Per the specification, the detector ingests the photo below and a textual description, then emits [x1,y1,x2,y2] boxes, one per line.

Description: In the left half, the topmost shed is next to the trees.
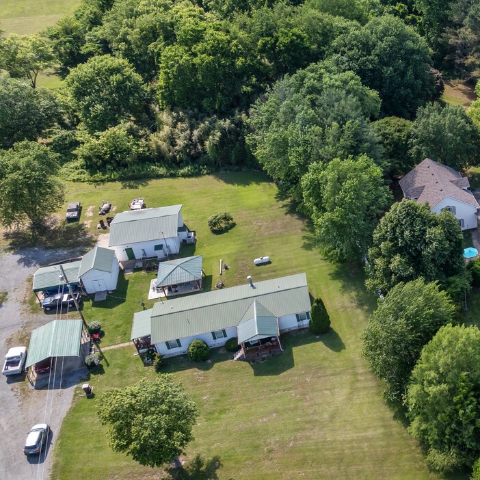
[108,204,192,273]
